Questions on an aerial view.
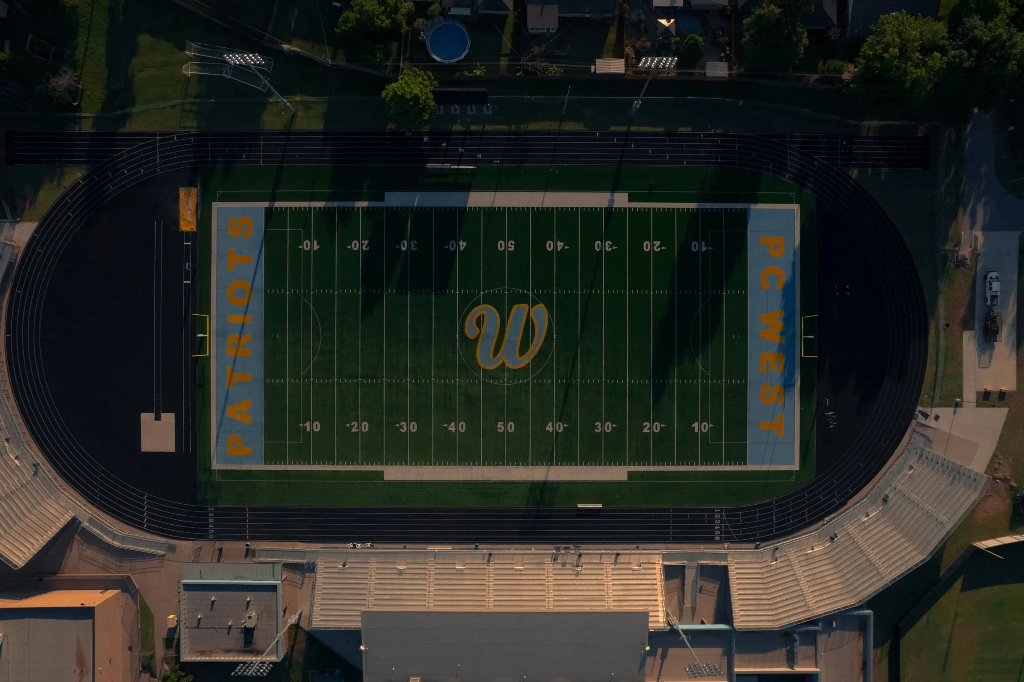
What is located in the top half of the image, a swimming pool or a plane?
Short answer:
swimming pool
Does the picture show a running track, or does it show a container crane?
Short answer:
running track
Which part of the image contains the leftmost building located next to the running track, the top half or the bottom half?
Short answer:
bottom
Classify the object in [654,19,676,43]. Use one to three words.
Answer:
gazebo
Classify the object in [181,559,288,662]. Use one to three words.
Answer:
building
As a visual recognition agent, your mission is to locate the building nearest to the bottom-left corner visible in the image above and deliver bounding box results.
[0,590,121,682]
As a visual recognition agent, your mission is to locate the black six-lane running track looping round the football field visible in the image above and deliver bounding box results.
[4,128,929,544]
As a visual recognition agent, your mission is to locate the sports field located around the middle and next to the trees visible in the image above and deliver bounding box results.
[196,166,817,507]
